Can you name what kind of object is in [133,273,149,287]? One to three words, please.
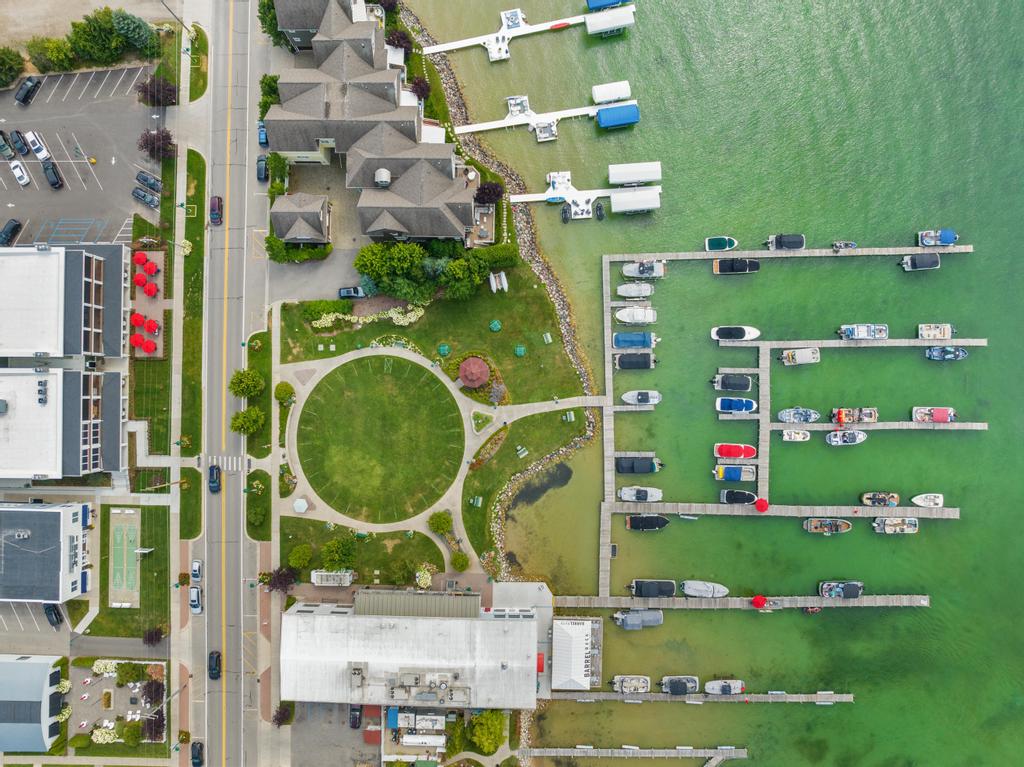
umbrella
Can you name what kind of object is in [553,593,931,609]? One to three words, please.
pier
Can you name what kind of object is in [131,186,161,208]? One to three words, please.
car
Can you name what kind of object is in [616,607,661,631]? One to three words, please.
boat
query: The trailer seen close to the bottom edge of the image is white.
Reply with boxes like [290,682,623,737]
[403,728,447,747]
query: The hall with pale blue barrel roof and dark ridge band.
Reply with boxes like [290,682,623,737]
[0,651,67,753]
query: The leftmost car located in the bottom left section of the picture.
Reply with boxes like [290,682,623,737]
[42,602,66,629]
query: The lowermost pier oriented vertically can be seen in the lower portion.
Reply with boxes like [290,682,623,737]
[597,511,613,598]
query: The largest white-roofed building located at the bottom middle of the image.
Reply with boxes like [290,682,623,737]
[278,586,537,708]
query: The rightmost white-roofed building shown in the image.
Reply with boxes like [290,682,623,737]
[551,616,604,693]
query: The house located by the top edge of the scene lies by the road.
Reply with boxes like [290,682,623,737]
[262,0,495,245]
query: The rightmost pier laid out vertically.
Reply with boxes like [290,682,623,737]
[755,346,772,507]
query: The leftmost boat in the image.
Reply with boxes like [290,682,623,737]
[491,271,507,292]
